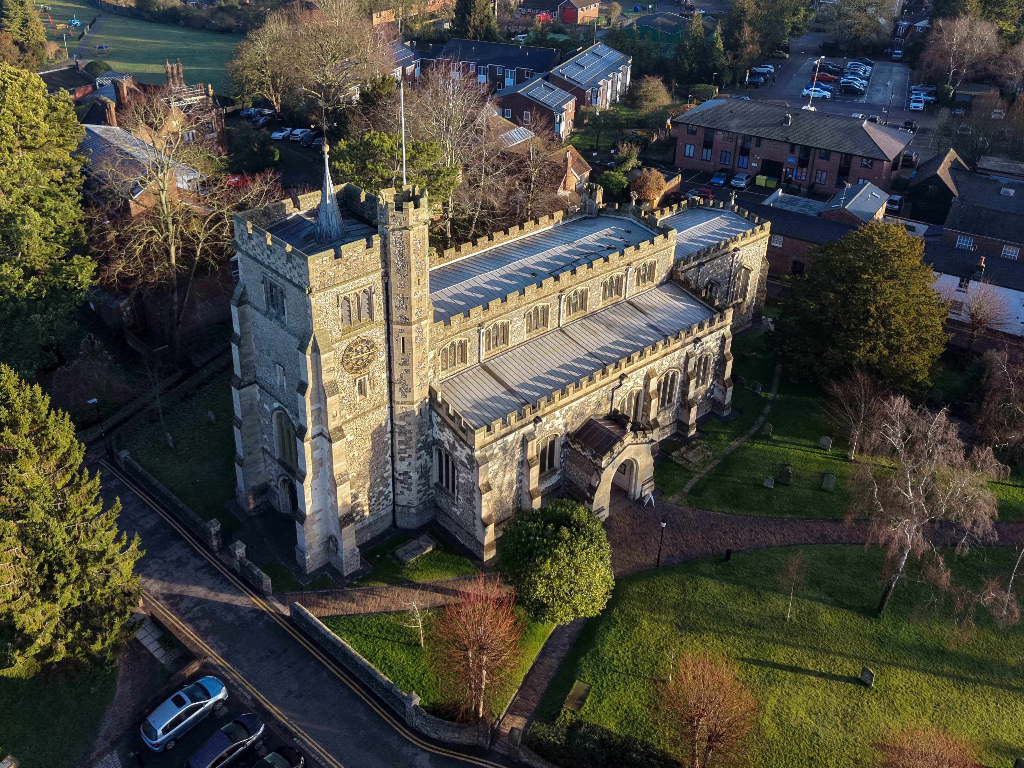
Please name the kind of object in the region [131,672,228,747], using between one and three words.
car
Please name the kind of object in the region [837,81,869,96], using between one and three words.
car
